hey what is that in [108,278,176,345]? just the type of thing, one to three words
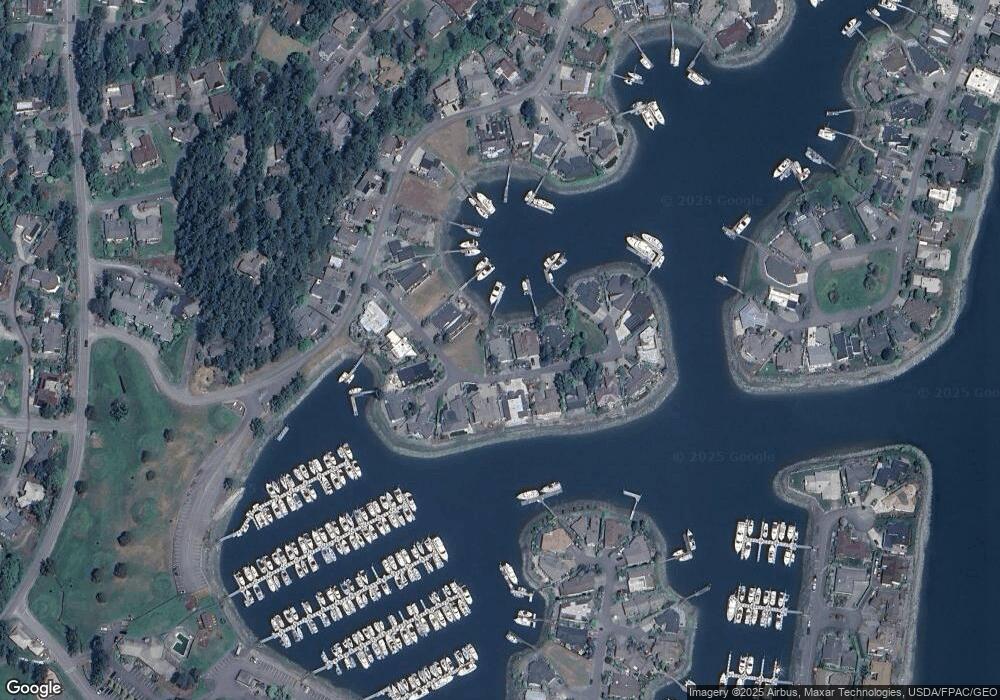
building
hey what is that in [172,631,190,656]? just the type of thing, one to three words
swimming pool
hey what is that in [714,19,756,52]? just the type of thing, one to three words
house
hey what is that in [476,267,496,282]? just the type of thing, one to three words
boat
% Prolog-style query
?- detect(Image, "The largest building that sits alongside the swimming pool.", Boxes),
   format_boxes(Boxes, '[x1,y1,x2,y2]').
[117,638,177,679]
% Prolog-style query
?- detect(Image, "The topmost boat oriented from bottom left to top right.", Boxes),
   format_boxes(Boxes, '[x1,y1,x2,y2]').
[844,17,857,33]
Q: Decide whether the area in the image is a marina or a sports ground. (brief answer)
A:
marina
